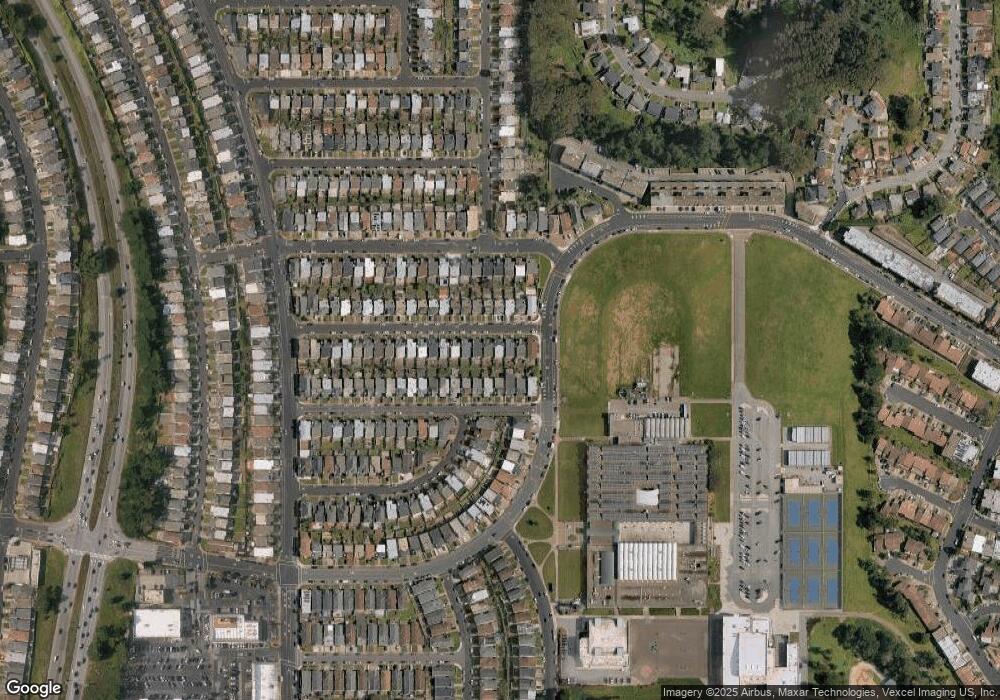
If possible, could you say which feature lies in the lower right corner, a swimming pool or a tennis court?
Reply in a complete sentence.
You can see a tennis court in the lower right corner.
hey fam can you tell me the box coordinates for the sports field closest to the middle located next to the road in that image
[561,232,731,437]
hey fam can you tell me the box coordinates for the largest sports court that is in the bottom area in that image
[631,618,707,684]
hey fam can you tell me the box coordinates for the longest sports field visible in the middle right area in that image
[746,235,872,608]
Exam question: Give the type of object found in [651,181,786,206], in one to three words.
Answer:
building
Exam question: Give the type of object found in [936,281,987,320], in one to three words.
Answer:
building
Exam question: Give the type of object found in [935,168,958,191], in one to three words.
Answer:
house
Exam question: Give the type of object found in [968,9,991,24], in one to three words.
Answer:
house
